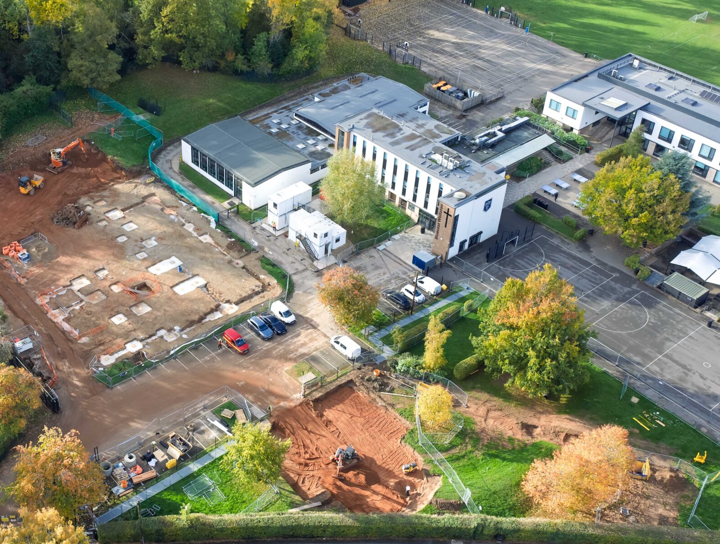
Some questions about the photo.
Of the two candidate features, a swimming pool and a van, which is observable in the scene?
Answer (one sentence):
Of the two, only a van appears.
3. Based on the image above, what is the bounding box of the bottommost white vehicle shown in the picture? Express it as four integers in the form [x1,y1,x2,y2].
[332,337,365,363]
